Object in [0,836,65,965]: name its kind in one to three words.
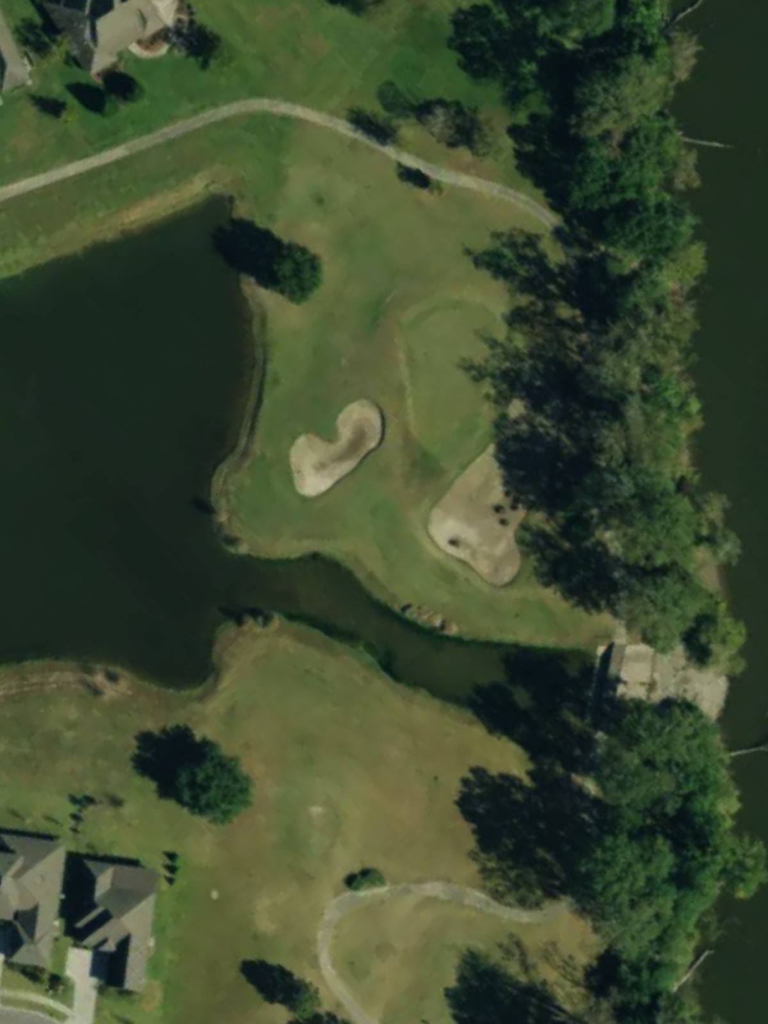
house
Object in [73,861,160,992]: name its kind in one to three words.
house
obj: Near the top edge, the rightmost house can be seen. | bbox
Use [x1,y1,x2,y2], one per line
[43,0,178,80]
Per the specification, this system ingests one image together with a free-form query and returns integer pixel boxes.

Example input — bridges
[602,641,626,716]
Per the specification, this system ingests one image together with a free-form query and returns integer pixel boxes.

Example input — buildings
[73,861,160,992]
[0,836,65,965]
[43,0,178,80]
[0,10,29,91]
